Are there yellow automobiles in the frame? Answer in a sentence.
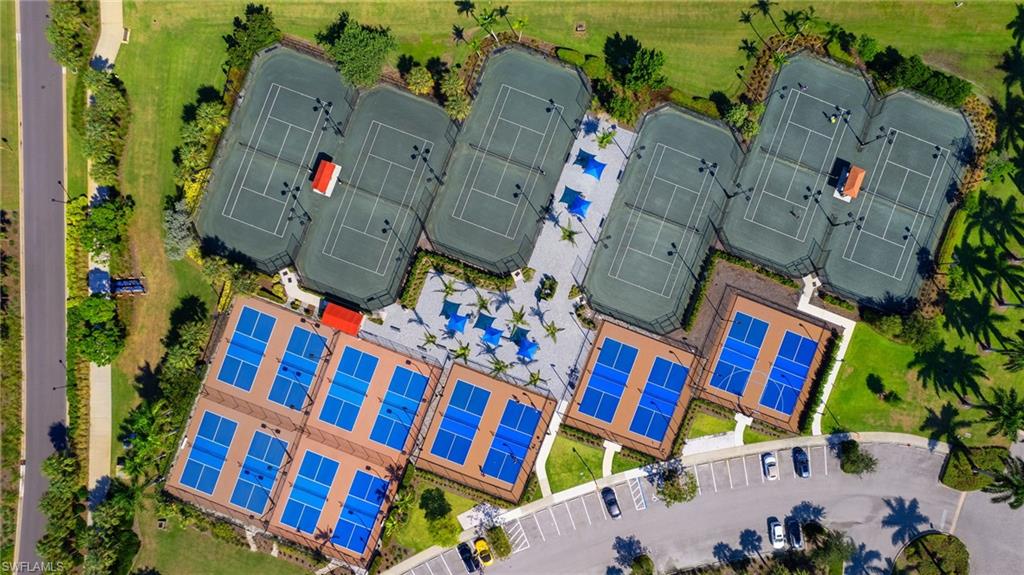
Yes, looking at the shot, I can spot a yellow automobile.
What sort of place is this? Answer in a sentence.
The picture captures a sports ground.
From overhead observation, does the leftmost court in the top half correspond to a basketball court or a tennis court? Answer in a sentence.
Specifically, the leftmost court in the top half is a tennis court.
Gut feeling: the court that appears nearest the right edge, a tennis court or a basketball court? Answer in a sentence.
The court that appears nearest the right edge appears to be a tennis court.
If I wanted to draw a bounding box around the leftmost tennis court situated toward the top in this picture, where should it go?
[195,45,356,273]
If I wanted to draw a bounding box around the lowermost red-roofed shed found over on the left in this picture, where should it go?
[322,302,370,335]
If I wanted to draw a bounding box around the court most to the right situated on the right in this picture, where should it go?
[819,87,973,307]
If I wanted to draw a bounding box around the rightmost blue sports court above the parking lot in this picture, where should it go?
[759,330,818,416]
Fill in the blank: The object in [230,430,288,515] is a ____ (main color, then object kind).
blue sports court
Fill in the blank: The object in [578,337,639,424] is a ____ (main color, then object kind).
blue sports court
